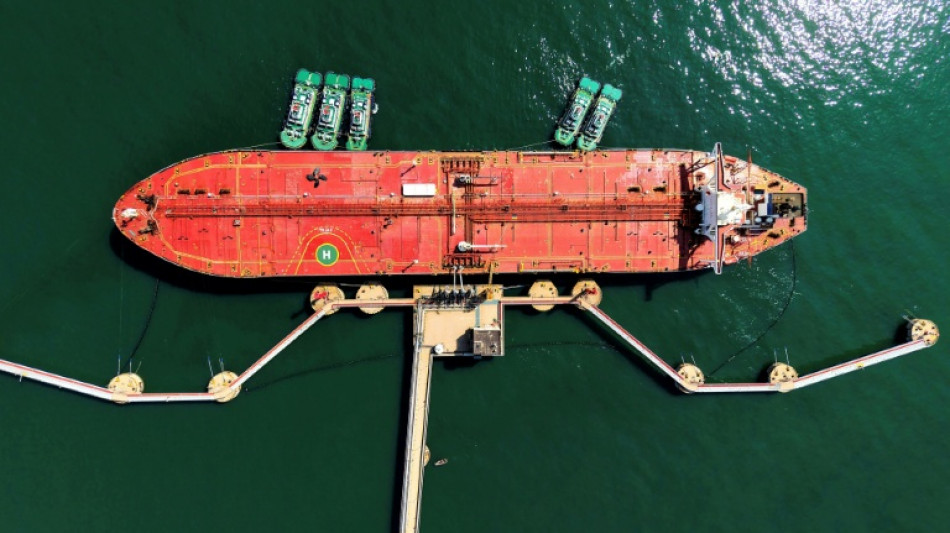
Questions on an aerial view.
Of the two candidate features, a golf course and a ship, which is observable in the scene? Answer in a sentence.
Looking from above, you can make out a ship.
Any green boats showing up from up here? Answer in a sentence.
Yes, looking at the shot, I can spot a green boat.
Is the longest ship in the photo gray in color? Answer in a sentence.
No, the color of the longest ship is red.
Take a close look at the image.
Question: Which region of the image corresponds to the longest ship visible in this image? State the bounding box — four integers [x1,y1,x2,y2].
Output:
[111,143,808,277]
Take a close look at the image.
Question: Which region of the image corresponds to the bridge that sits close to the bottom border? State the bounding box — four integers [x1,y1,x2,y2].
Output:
[400,362,432,533]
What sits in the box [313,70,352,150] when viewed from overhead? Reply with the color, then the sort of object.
green boat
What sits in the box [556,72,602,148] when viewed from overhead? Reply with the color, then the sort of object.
green boat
